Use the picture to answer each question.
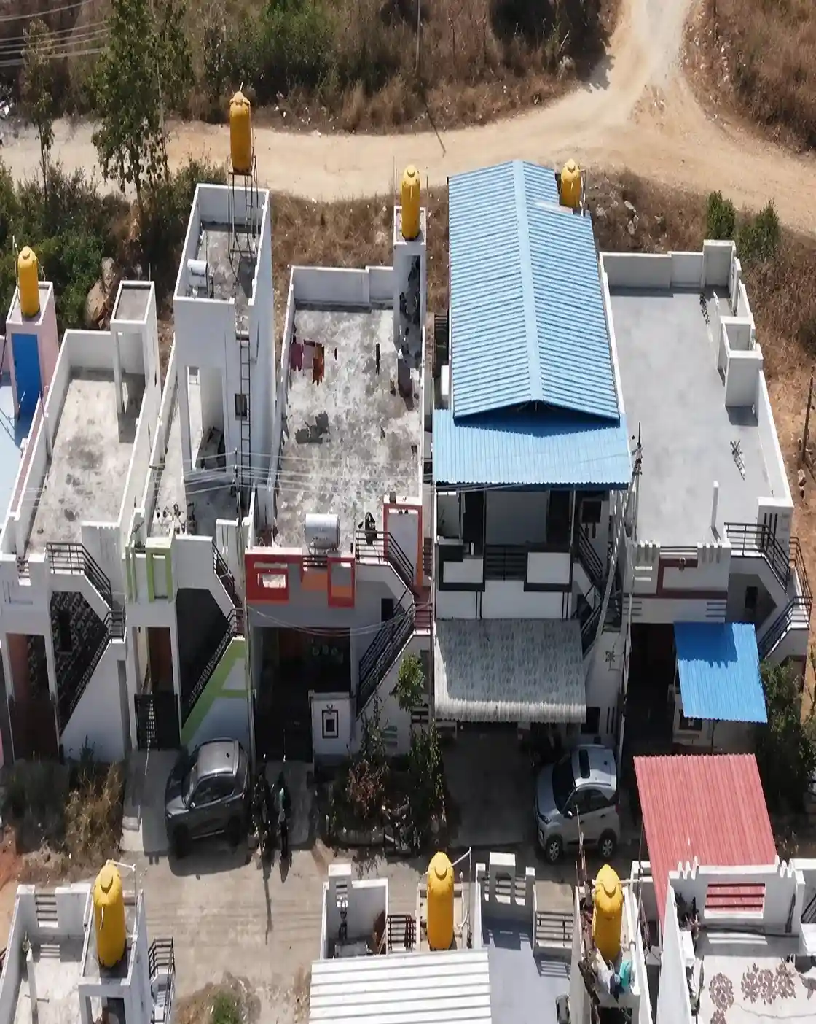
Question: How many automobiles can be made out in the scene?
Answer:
2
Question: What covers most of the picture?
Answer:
buildings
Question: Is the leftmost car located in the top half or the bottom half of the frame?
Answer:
bottom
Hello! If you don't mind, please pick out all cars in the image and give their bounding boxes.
[533,751,623,864]
[163,740,252,856]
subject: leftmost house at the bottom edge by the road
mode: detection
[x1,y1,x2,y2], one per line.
[0,876,179,1024]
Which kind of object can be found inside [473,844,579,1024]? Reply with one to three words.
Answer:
house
